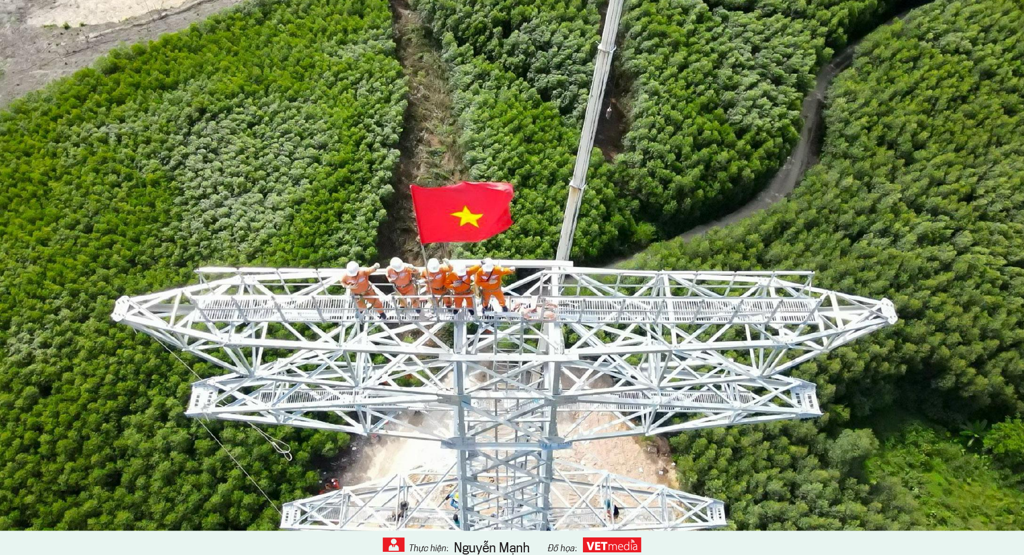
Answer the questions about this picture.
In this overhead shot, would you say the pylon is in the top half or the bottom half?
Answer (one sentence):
The bottom half of the photo is where the pylon is.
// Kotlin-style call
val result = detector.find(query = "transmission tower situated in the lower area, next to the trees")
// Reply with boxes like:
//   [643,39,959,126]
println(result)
[112,258,896,555]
